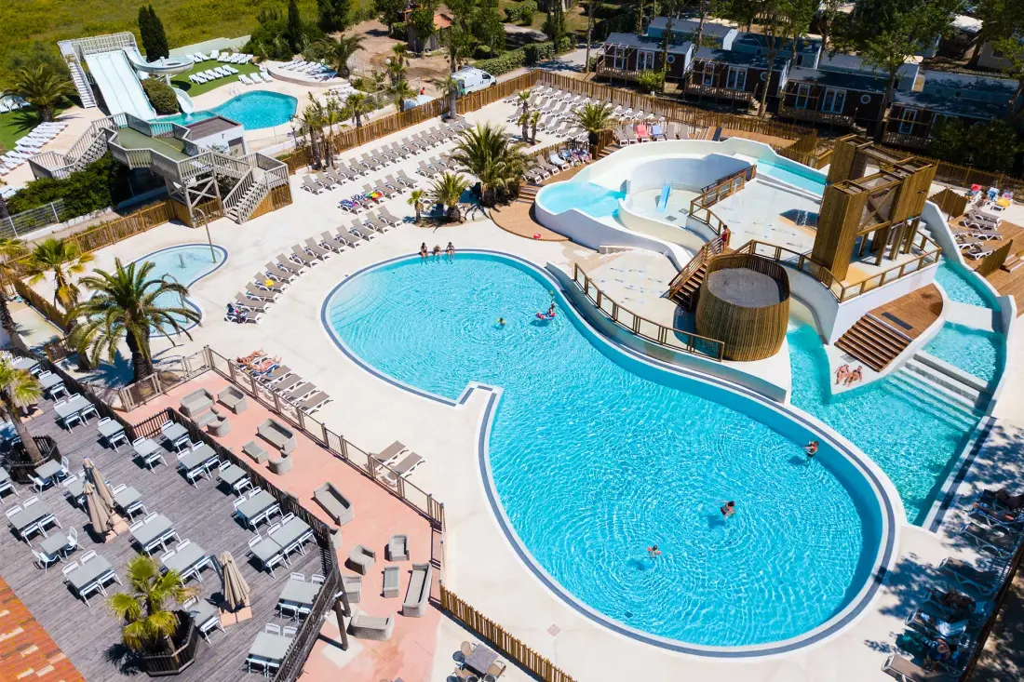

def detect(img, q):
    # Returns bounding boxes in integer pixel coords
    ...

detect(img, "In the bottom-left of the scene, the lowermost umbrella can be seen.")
[210,550,256,628]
